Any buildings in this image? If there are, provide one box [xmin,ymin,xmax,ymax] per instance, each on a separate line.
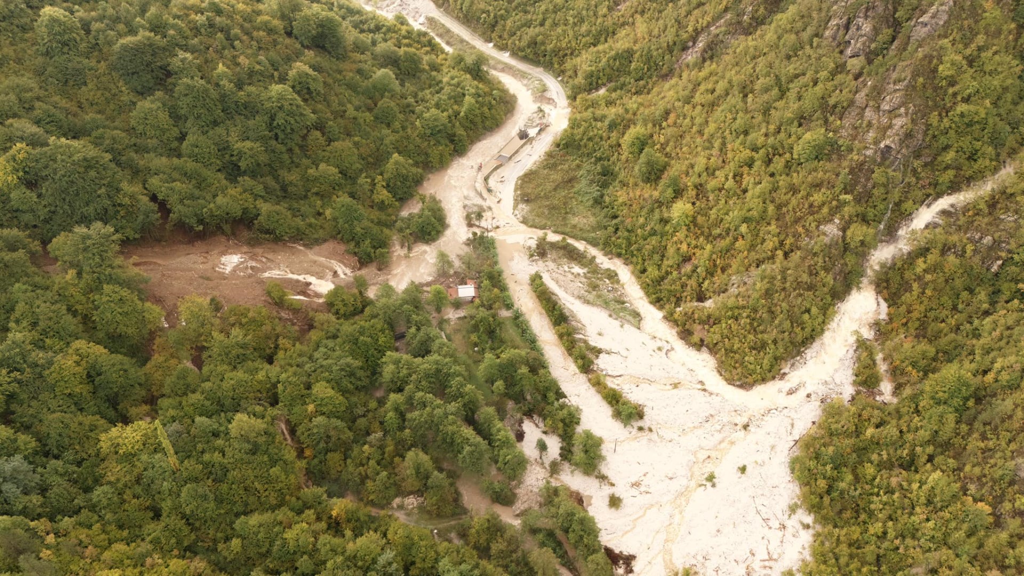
[498,130,530,164]
[446,278,478,300]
